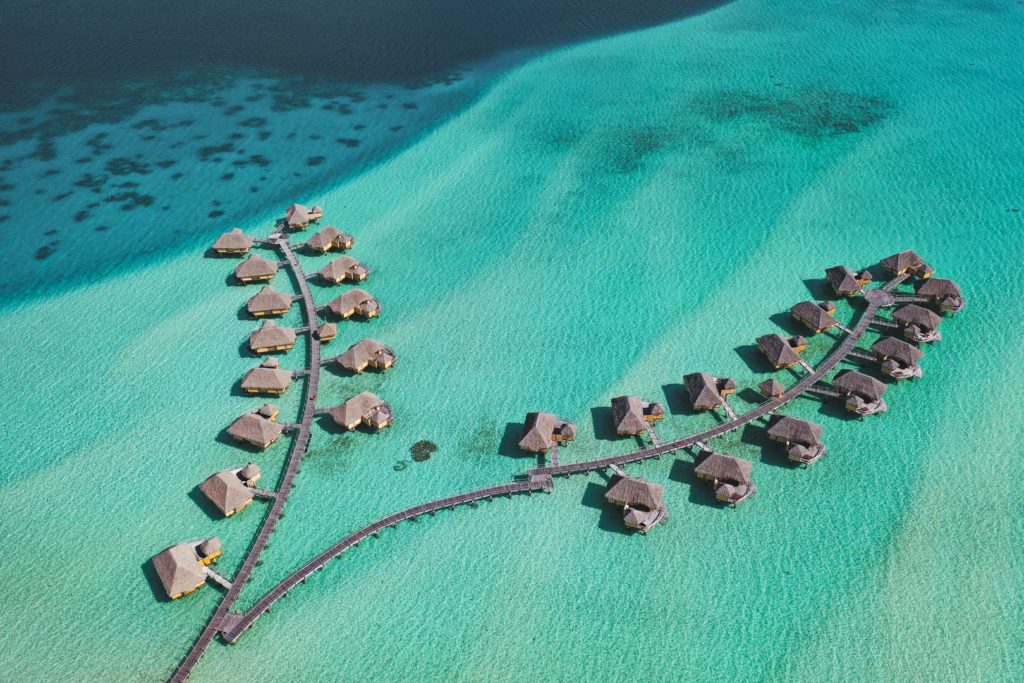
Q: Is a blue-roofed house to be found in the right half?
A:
No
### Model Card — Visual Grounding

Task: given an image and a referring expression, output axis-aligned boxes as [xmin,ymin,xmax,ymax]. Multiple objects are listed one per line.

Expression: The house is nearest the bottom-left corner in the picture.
[152,539,224,607]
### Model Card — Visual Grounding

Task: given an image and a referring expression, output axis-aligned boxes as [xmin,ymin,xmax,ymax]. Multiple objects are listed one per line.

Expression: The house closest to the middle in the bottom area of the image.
[522,413,577,461]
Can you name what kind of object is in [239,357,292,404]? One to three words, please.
house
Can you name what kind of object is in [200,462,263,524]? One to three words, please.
house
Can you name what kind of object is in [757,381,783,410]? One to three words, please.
shed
